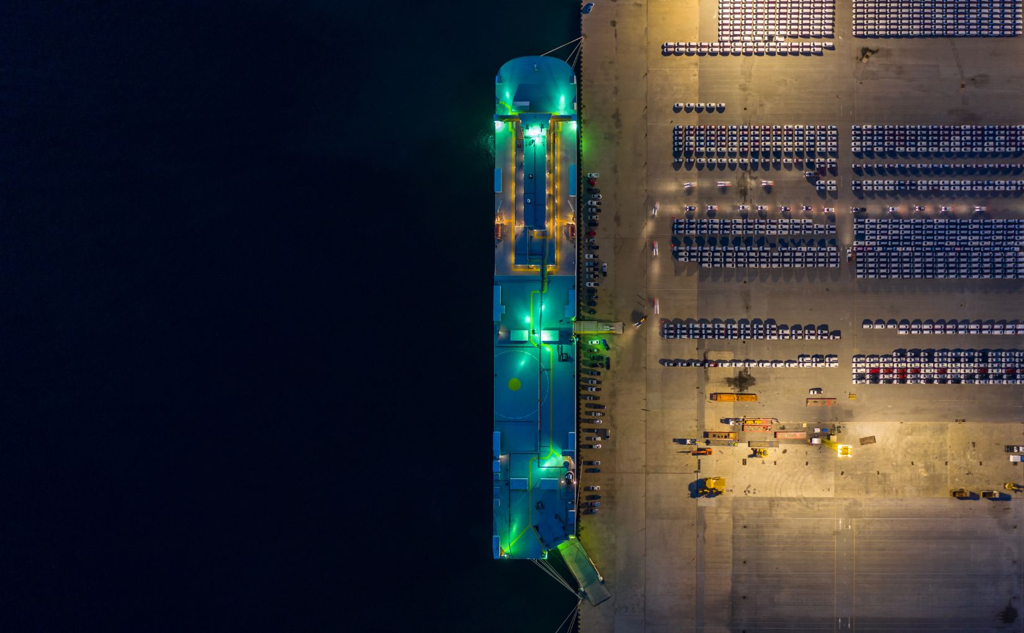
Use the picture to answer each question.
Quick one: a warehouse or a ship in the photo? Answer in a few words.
ship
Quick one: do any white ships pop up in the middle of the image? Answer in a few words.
No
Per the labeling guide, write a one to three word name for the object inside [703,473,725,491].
vehicle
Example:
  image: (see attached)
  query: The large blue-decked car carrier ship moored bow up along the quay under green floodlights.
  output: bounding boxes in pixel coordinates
[493,55,623,606]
